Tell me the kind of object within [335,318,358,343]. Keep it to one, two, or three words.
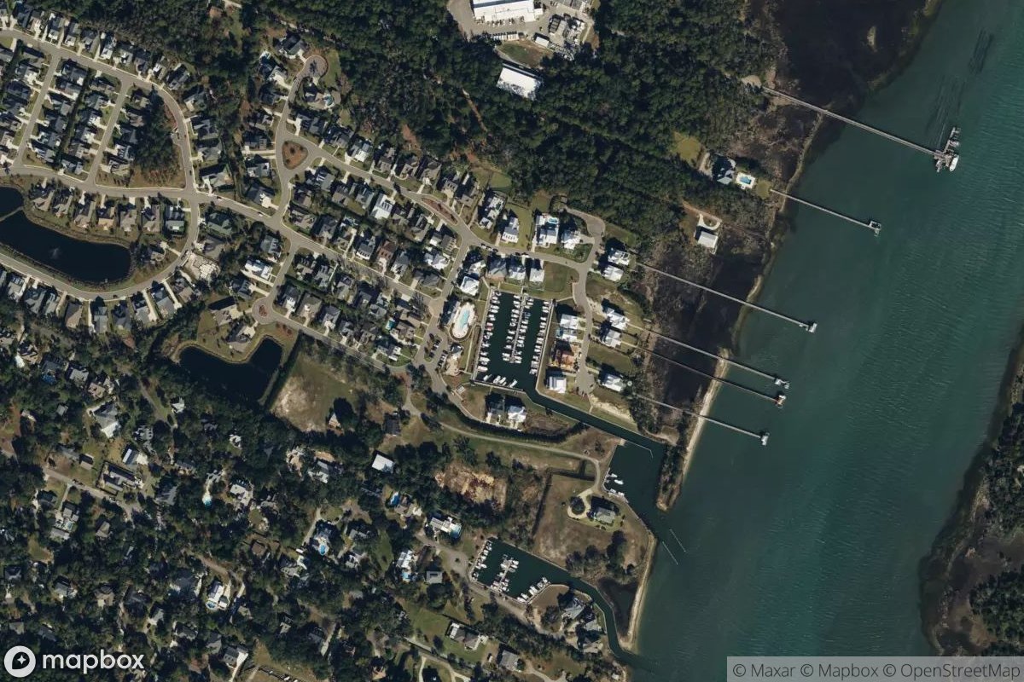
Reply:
house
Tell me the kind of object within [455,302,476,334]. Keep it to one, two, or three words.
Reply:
swimming pool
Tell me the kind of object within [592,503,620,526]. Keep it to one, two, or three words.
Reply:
house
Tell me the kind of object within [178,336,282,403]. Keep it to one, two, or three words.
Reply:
pond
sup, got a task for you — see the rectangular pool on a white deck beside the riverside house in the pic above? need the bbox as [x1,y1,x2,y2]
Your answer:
[736,171,757,189]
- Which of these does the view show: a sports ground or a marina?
marina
